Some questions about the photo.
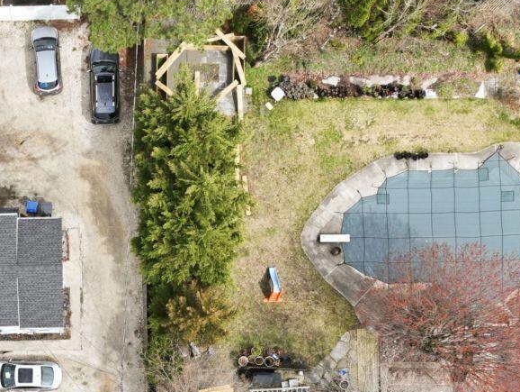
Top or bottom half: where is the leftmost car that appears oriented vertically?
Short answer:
top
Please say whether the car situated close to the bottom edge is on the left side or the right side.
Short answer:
left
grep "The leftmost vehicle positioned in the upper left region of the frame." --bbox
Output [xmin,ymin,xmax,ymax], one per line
[28,28,63,100]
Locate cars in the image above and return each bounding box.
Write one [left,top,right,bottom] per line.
[0,357,63,392]
[28,28,63,100]
[84,50,123,128]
